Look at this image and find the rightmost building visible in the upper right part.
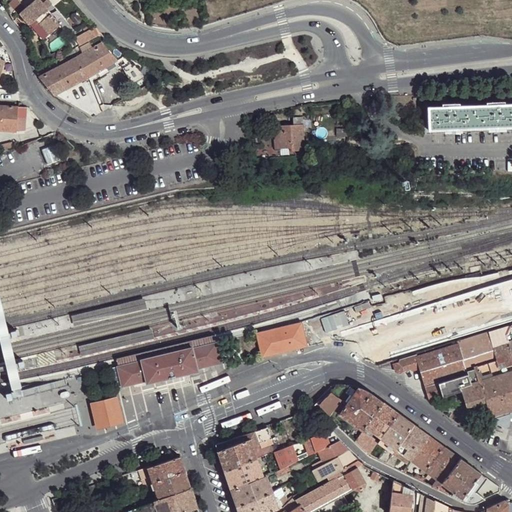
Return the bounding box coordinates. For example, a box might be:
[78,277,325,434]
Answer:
[426,102,512,136]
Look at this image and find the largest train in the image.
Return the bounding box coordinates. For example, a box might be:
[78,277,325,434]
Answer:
[4,425,54,442]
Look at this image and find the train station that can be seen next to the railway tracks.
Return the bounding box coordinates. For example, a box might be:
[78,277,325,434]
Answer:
[14,250,369,386]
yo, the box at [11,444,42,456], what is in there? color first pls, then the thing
white vehicle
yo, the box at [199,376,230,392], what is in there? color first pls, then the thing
white vehicle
